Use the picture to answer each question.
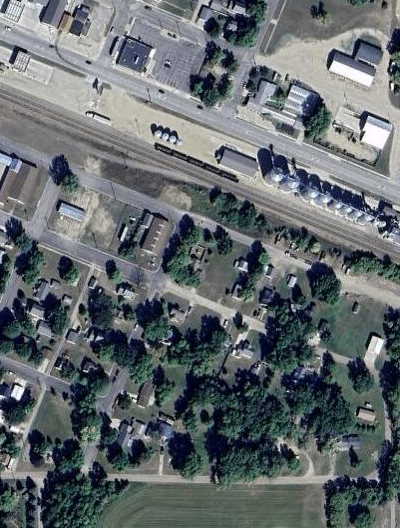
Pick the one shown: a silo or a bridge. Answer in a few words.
silo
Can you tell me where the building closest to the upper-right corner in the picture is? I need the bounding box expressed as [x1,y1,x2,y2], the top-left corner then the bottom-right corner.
[354,40,383,66]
